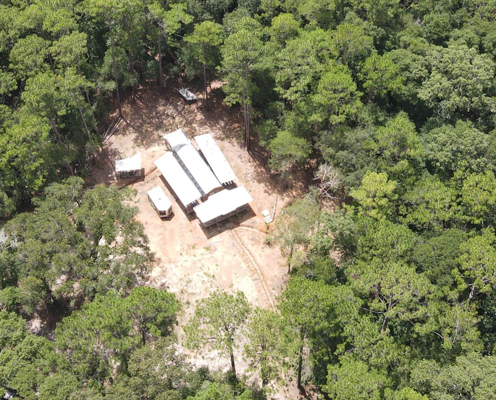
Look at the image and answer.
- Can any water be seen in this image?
No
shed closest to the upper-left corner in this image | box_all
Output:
[116,151,142,179]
